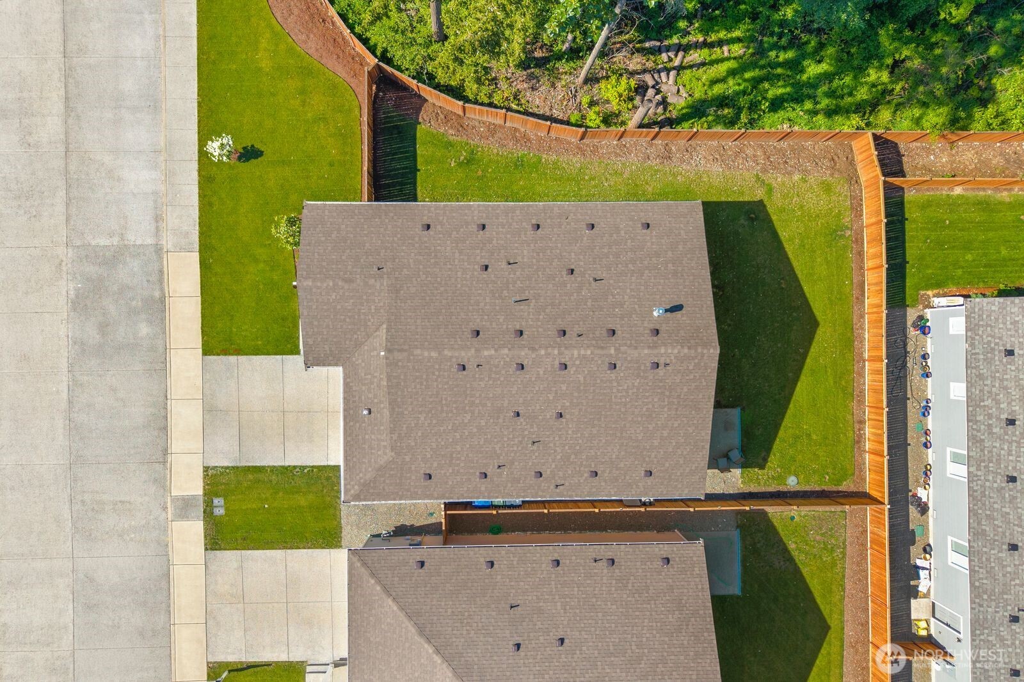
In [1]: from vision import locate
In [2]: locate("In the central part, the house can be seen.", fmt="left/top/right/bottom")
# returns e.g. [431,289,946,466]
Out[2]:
[291,198,721,503]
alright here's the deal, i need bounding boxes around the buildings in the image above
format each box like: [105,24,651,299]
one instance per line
[311,530,718,682]
[929,295,1024,682]
[291,198,721,503]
